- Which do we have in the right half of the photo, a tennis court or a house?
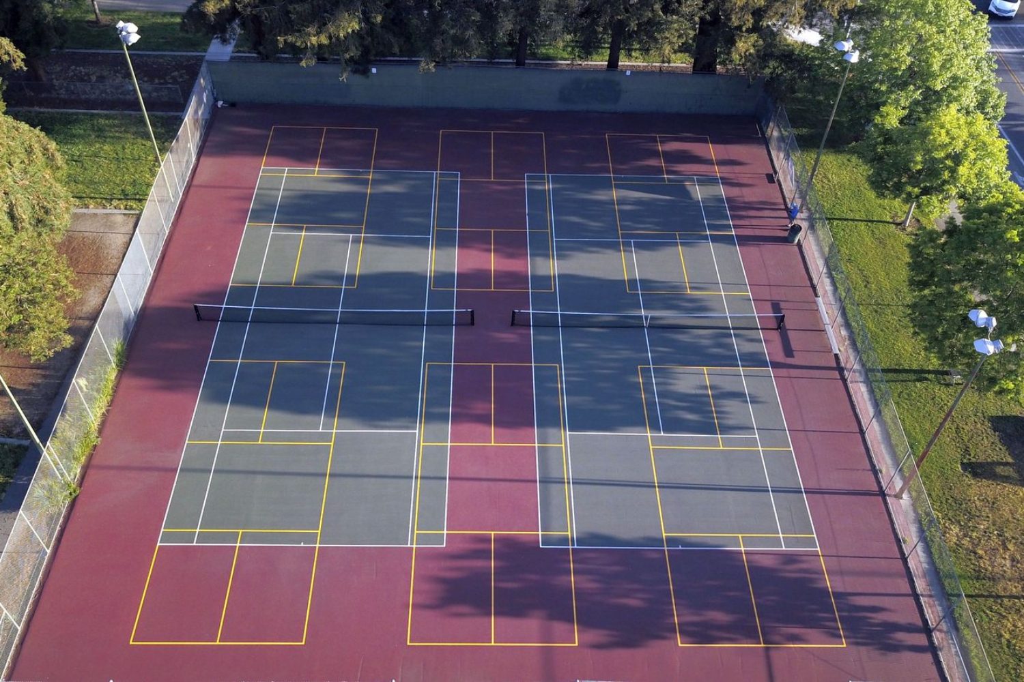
tennis court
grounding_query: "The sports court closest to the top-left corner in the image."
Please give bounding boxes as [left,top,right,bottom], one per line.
[239,125,378,288]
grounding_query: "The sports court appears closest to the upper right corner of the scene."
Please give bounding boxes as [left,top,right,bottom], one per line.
[606,133,750,295]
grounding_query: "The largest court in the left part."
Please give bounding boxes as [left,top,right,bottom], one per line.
[158,167,460,547]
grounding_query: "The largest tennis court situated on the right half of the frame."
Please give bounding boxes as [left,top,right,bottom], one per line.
[525,173,819,550]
